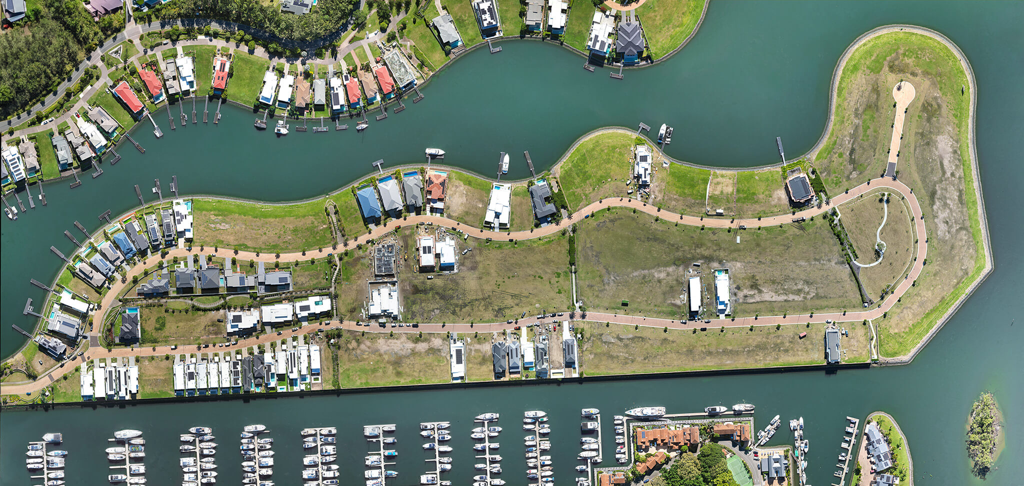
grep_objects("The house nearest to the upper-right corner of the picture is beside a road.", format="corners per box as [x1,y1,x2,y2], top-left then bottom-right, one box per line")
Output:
[785,175,817,205]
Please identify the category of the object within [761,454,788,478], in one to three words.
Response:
building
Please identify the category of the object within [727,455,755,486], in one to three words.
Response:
tennis court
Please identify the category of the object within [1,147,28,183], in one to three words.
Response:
house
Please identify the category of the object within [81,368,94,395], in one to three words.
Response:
house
